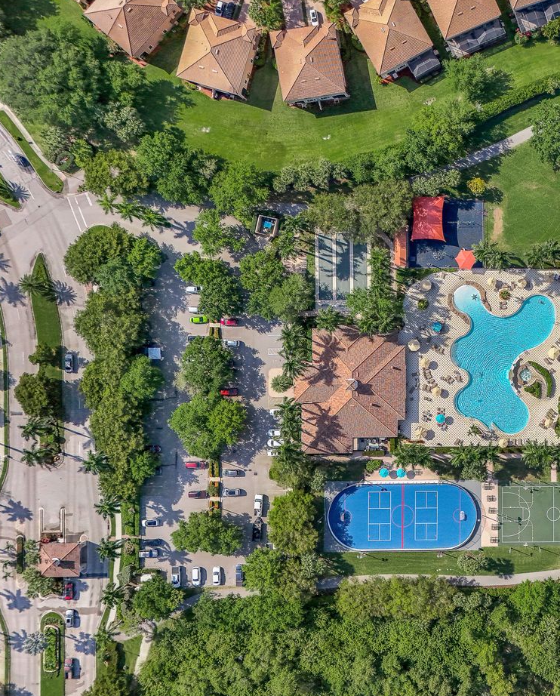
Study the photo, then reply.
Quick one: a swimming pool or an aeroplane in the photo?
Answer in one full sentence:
The one in the frame is a swimming pool.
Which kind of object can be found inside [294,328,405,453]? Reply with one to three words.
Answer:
building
